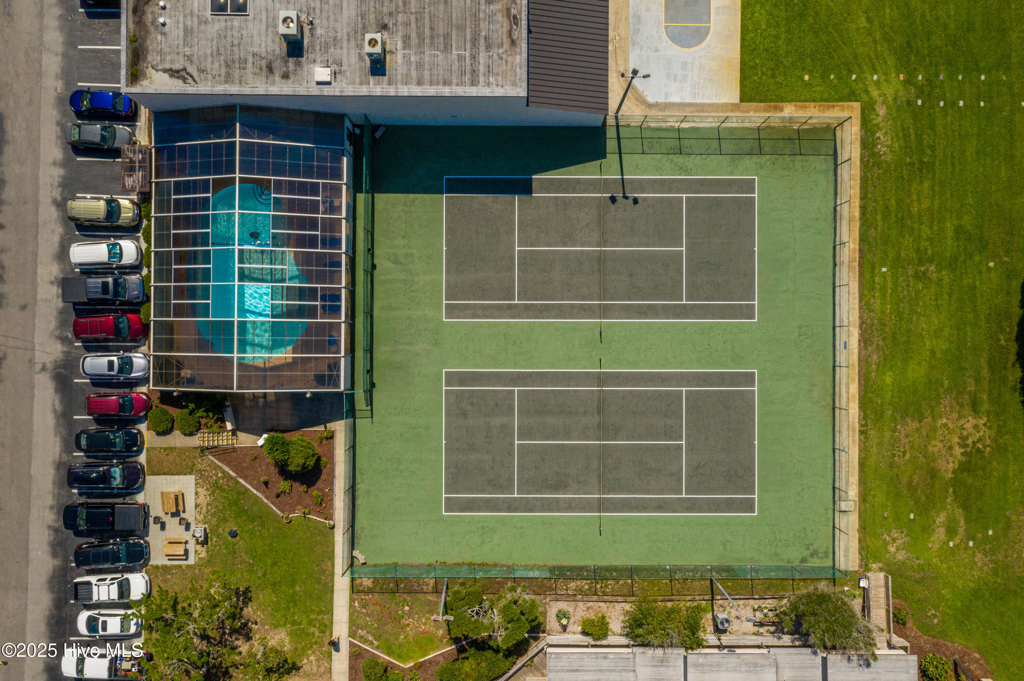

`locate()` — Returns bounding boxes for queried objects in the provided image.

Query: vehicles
[77,425,146,456]
[81,350,149,382]
[61,272,146,305]
[76,538,151,571]
[71,83,137,117]
[80,0,122,13]
[67,460,146,493]
[80,608,144,642]
[65,648,148,681]
[68,236,144,269]
[84,388,154,420]
[67,118,138,149]
[65,193,142,226]
[73,310,147,342]
[73,573,151,607]
[65,502,148,537]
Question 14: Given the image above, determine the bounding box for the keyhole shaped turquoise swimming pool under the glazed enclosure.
[189,181,311,362]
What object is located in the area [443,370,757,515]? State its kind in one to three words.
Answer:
tennis court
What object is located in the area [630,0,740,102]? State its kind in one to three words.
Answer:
basketball court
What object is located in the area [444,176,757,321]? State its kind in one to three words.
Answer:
tennis court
